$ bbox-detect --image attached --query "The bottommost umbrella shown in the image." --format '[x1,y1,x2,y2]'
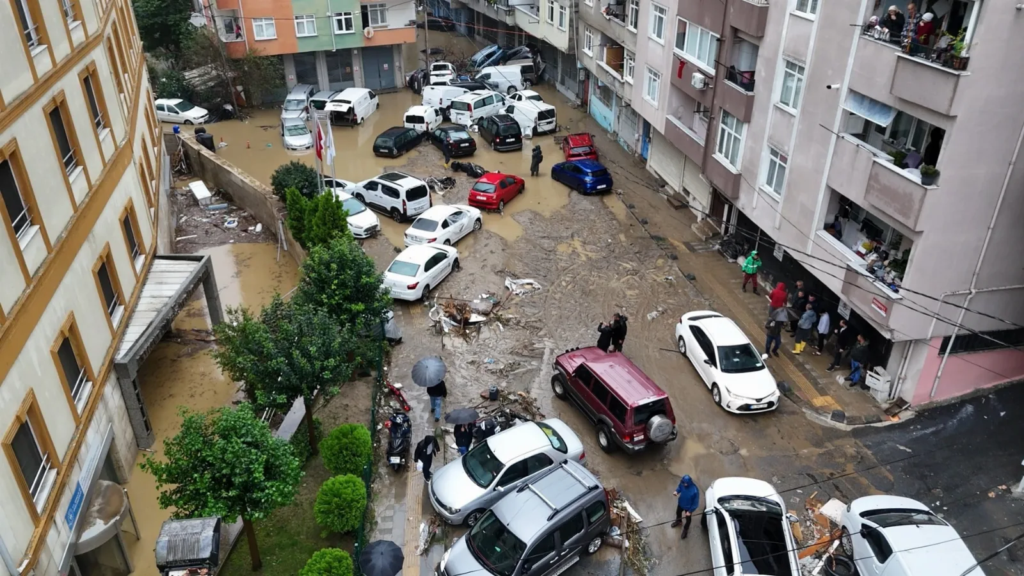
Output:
[350,541,412,576]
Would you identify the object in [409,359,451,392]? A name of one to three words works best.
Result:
umbrella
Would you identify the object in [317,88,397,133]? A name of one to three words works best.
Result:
van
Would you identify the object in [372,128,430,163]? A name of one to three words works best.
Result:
car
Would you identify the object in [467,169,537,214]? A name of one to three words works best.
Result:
car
